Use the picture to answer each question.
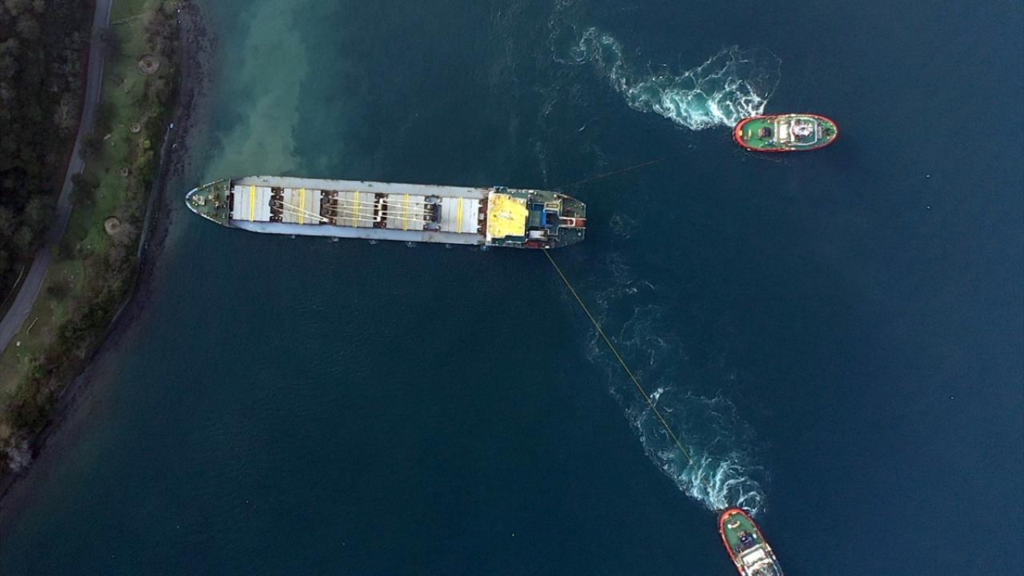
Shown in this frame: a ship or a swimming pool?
ship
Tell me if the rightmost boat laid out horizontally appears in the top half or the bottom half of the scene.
top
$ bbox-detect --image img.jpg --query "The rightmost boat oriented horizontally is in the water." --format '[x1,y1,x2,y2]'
[731,113,841,153]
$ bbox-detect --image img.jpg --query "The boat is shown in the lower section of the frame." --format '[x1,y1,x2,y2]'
[718,504,779,576]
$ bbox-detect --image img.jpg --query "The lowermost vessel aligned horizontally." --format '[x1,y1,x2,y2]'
[186,176,586,250]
